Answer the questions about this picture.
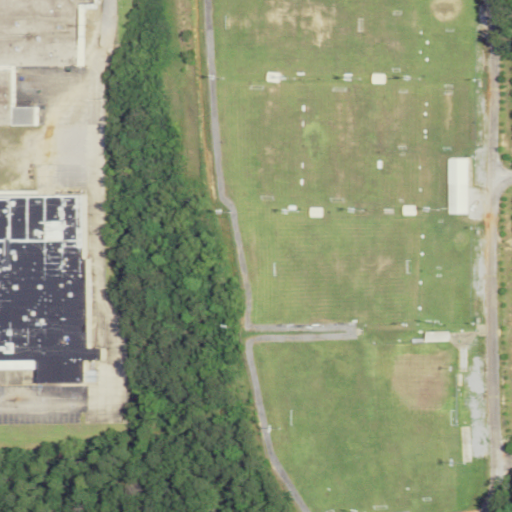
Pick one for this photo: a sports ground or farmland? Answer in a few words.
sports ground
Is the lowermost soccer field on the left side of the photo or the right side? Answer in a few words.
right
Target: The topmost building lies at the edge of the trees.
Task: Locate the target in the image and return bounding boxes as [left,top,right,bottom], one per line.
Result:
[0,0,100,67]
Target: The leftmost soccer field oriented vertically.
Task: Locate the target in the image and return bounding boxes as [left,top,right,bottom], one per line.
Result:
[248,87,300,199]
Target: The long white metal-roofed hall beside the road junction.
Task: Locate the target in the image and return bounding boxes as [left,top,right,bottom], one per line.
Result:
[450,157,475,214]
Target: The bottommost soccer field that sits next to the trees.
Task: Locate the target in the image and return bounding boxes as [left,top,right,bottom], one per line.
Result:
[291,346,453,498]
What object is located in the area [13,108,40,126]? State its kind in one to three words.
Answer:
building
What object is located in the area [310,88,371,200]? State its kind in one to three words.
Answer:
soccer field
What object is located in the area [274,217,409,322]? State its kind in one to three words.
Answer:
soccer field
